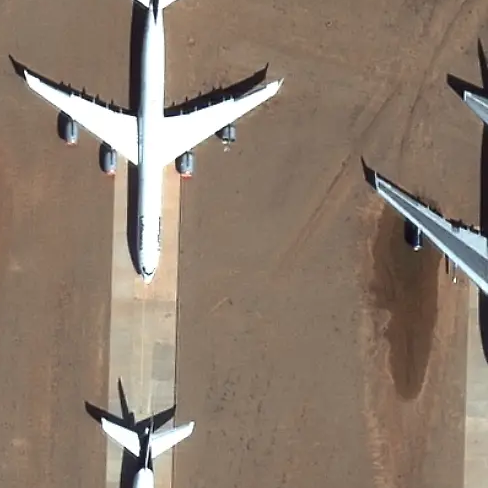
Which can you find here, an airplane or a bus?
airplane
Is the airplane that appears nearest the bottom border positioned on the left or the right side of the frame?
left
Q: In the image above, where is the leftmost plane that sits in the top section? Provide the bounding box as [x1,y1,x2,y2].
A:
[26,0,283,284]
